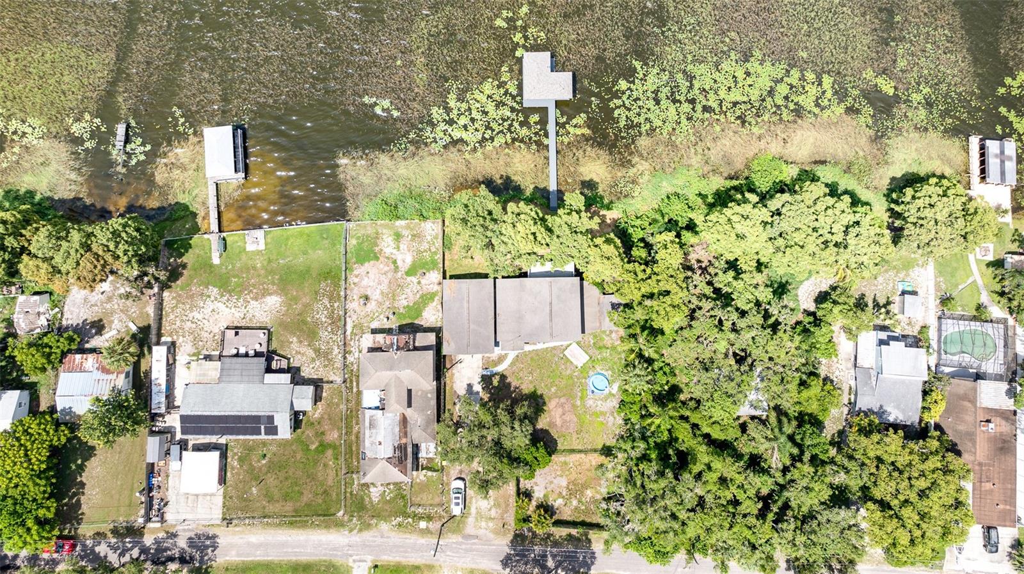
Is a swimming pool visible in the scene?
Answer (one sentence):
Yes, the photo shows a swimming pool.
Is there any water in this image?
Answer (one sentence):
Yes, water shows up in the scene.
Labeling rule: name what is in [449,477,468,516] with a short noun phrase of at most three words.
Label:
car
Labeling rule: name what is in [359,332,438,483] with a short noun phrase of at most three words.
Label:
house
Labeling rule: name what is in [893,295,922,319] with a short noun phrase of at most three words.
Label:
shed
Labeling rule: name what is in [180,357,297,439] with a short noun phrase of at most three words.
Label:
house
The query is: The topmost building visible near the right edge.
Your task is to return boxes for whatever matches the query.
[962,135,1016,189]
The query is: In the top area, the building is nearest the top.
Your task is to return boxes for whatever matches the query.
[523,45,573,107]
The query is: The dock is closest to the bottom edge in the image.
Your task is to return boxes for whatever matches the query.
[207,182,223,231]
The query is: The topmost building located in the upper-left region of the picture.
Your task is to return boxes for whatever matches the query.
[204,125,252,182]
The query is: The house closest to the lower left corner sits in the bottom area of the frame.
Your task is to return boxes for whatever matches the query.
[0,387,39,432]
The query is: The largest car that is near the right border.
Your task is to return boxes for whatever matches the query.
[979,524,1002,554]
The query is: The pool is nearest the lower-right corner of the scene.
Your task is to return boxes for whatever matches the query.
[939,327,996,362]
